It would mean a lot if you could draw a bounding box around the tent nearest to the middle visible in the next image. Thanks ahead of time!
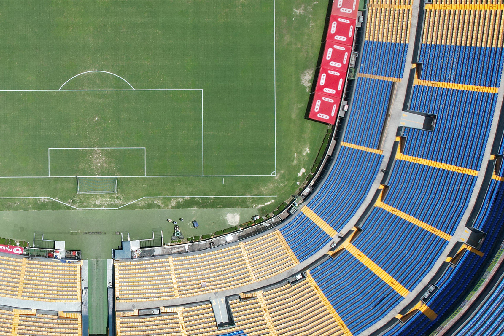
[304,93,340,126]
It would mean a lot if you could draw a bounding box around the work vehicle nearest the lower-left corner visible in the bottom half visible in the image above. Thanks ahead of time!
[170,223,185,243]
